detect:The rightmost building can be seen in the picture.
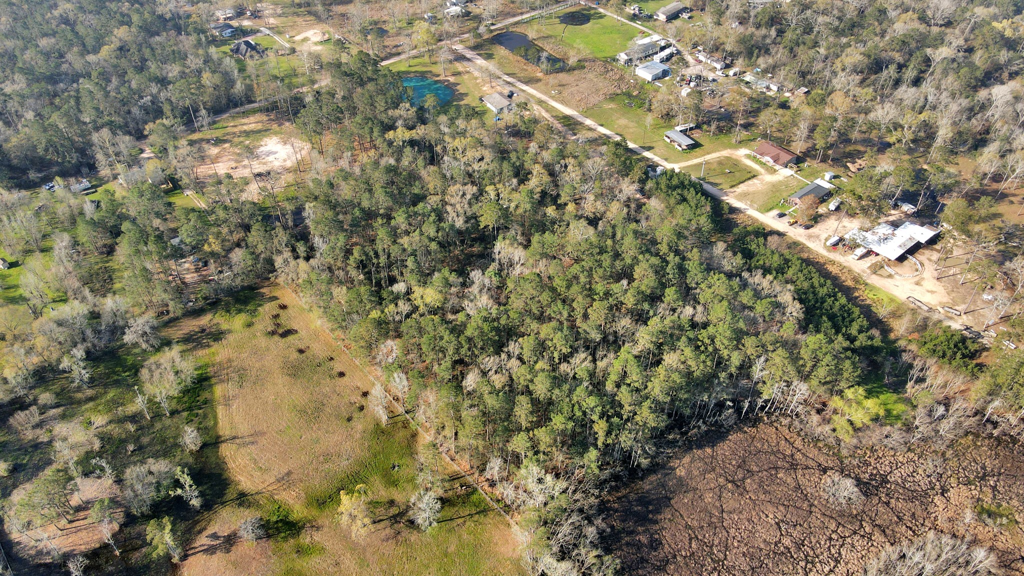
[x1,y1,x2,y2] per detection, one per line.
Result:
[843,222,940,264]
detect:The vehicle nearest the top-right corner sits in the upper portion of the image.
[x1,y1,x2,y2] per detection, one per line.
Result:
[901,199,919,214]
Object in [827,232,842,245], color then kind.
white vehicle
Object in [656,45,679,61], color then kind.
white vehicle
